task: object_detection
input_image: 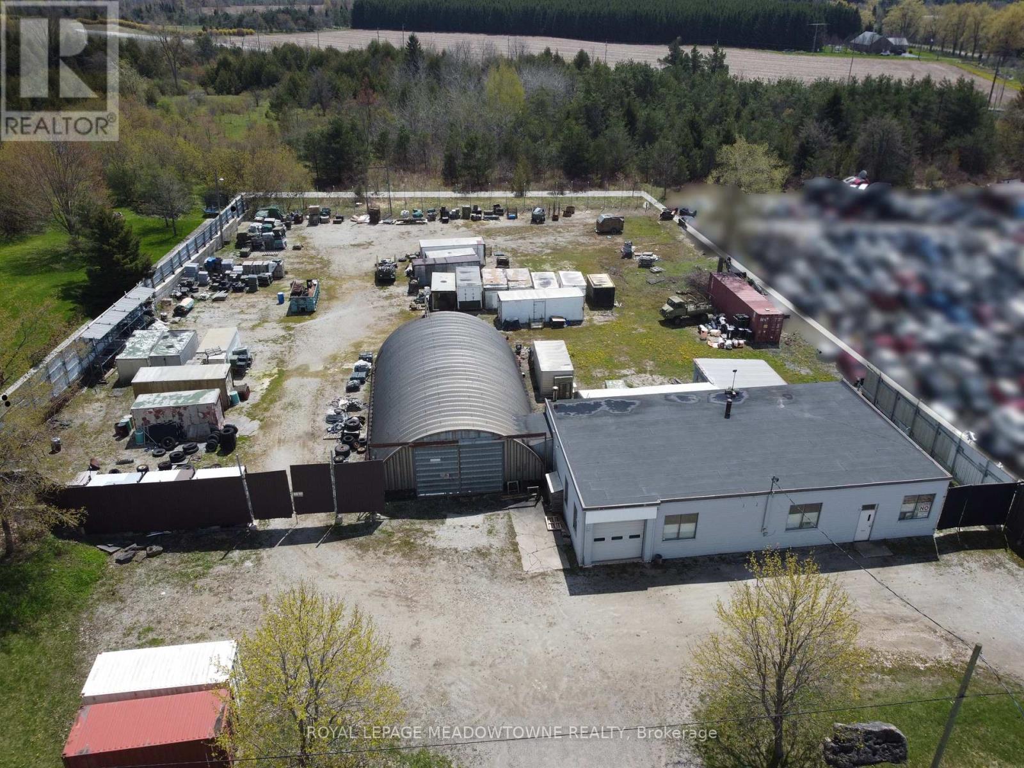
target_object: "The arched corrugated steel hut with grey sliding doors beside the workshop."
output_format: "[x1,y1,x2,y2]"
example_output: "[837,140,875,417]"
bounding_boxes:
[362,309,549,500]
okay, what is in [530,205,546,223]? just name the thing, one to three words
vehicle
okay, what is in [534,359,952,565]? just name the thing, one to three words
building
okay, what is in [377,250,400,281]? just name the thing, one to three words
truck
